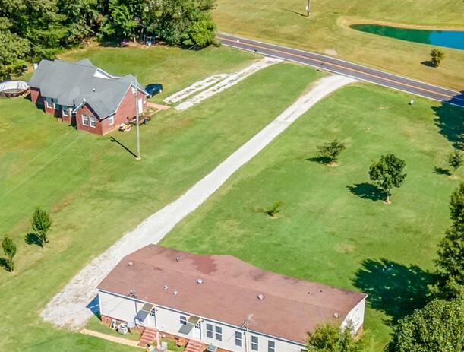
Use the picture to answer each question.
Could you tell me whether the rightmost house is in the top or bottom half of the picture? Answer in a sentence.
The rightmost house sits in the bottom half of the picture.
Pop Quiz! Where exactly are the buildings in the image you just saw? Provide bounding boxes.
[95,243,371,352]
[26,58,148,134]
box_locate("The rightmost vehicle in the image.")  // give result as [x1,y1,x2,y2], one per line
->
[142,81,170,96]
